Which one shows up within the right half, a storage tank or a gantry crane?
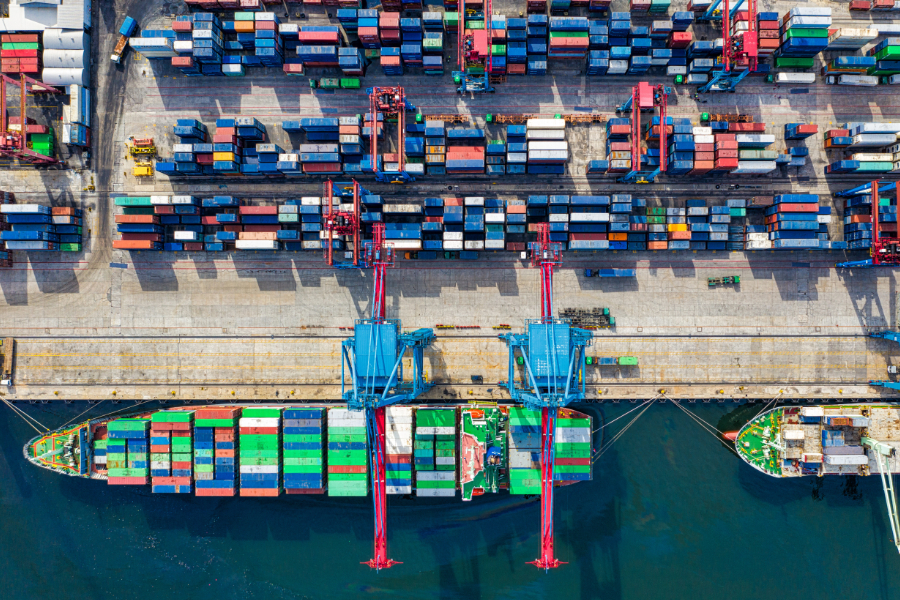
gantry crane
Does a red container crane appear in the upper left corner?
Yes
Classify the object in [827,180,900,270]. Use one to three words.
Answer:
container crane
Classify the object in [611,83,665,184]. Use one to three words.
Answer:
container crane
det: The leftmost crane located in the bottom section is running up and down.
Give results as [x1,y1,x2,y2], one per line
[336,221,436,575]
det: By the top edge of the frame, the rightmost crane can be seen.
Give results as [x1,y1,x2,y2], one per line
[692,0,753,92]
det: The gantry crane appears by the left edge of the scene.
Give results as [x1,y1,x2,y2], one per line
[0,72,72,170]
